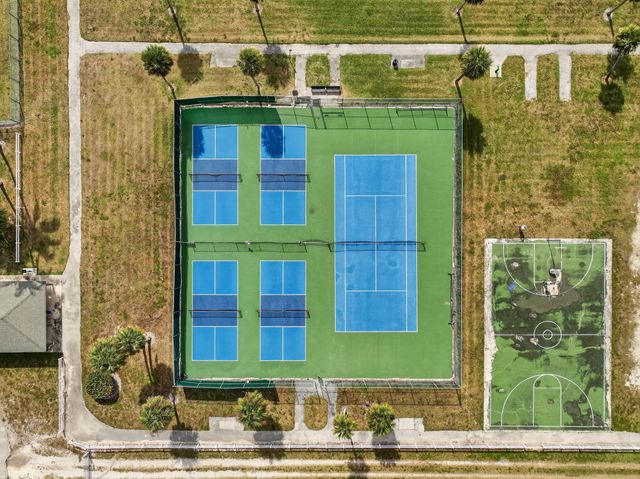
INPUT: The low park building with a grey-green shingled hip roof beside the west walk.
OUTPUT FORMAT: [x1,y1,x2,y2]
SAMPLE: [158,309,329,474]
[0,281,49,353]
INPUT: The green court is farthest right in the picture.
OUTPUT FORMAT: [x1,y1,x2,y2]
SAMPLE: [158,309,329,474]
[484,238,612,432]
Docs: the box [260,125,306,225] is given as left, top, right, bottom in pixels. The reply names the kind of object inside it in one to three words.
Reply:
sports court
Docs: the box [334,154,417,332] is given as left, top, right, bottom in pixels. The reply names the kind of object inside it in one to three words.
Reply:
tennis court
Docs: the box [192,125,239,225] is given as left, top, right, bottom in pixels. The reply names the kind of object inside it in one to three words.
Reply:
sports court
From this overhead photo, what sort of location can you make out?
sports ground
